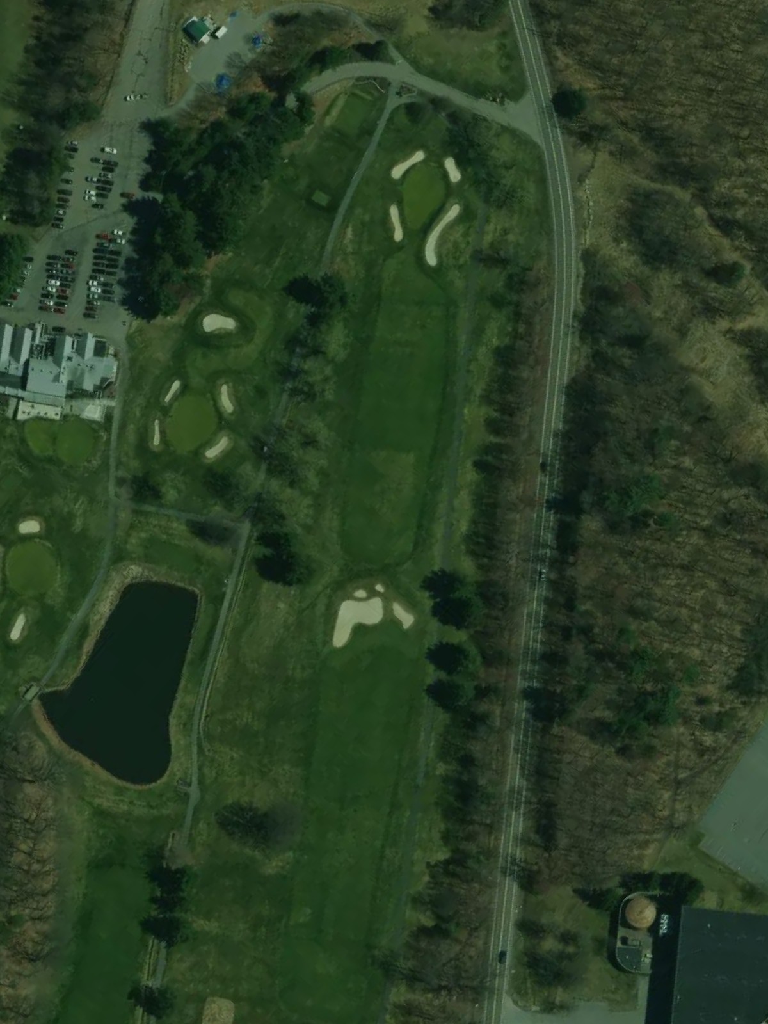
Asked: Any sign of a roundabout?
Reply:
No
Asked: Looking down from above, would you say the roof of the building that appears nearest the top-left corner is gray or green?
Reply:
green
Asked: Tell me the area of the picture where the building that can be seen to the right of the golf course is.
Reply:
bottom right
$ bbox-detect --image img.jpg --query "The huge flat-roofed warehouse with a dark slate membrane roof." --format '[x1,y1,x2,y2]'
[666,904,768,1024]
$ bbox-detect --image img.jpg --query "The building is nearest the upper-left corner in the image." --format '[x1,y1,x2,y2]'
[183,16,214,43]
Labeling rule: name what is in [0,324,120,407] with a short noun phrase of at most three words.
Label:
building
